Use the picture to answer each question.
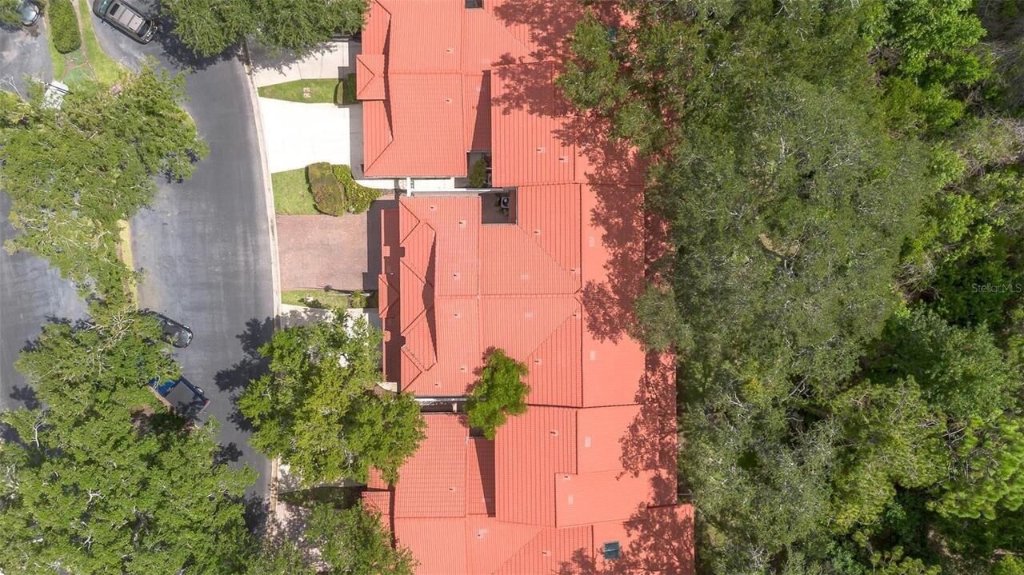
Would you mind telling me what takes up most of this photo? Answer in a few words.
trees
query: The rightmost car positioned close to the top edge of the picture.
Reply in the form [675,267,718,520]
[86,0,165,48]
